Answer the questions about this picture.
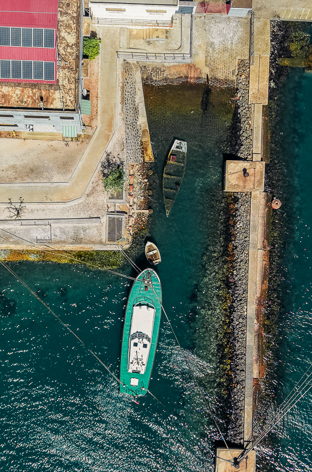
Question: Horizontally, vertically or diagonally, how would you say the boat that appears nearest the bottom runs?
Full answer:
The boat that appears nearest the bottom is laid out vertically.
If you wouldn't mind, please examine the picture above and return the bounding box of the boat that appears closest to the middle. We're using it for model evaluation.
[144,241,160,265]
